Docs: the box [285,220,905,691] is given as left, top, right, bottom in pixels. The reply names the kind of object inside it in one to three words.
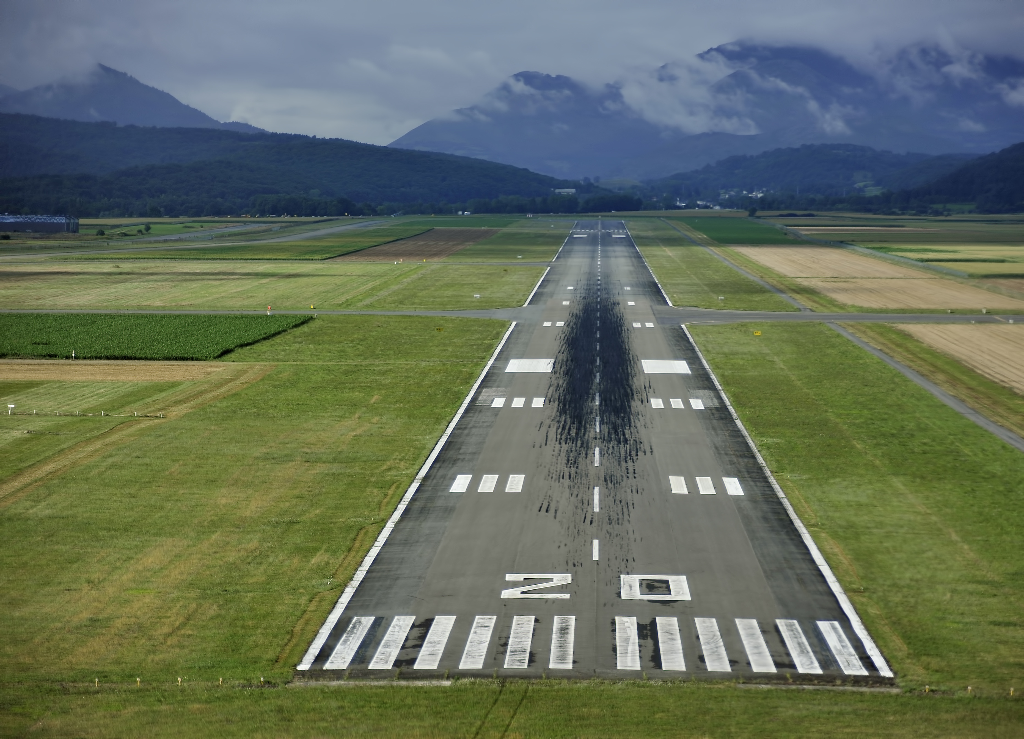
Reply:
runway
